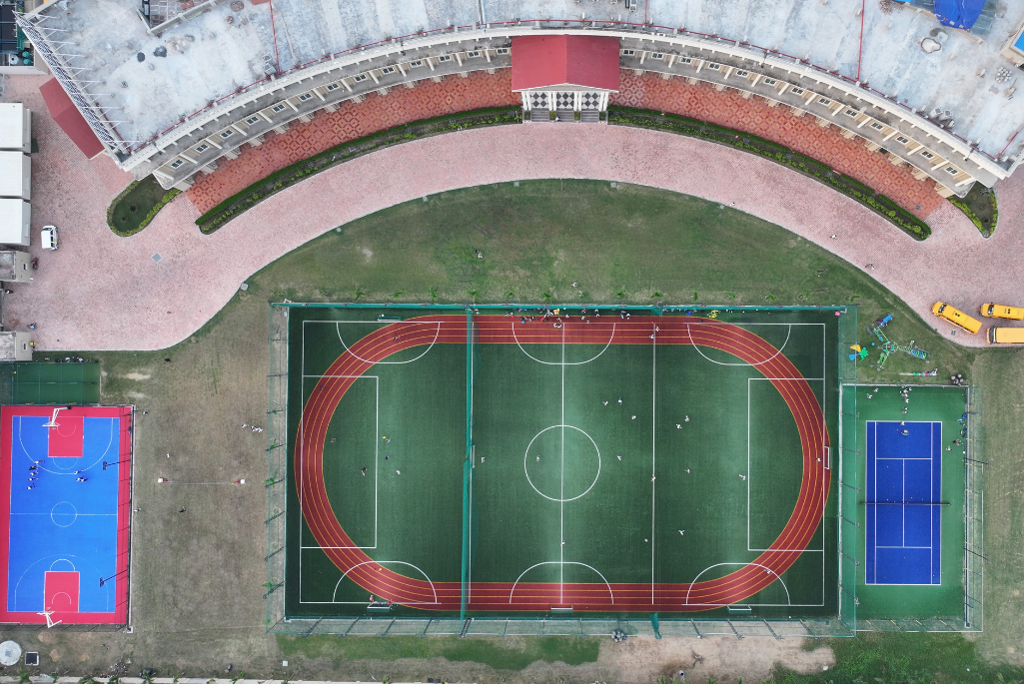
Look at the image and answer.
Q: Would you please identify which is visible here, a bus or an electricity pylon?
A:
bus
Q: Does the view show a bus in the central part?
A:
No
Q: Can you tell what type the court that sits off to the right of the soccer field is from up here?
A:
tennis court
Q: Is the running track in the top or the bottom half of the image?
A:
bottom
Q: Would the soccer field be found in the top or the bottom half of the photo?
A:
bottom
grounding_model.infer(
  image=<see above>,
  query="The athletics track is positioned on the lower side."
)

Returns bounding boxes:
[294,315,831,612]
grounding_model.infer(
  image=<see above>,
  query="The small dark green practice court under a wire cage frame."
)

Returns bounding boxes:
[0,362,100,404]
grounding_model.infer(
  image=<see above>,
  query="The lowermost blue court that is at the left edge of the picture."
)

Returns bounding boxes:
[0,405,131,624]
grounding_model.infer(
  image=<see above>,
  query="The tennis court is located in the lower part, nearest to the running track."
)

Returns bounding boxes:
[843,387,966,620]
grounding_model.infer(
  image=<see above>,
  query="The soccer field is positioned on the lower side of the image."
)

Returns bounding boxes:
[285,309,840,619]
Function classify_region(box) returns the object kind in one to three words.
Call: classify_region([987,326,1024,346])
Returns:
bus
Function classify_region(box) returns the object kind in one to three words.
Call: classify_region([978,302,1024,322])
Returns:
bus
